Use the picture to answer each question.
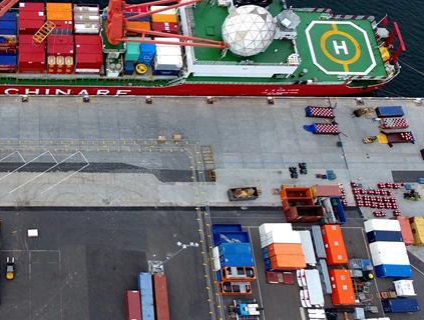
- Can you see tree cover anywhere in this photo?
No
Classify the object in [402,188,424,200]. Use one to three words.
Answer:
vehicle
